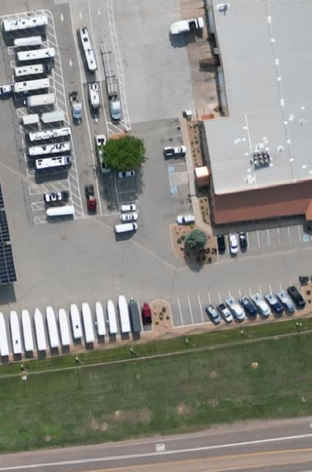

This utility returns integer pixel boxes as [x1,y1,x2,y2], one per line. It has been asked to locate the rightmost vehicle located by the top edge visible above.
[168,16,205,32]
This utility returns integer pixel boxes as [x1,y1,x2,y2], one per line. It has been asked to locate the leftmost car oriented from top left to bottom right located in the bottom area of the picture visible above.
[202,303,221,325]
